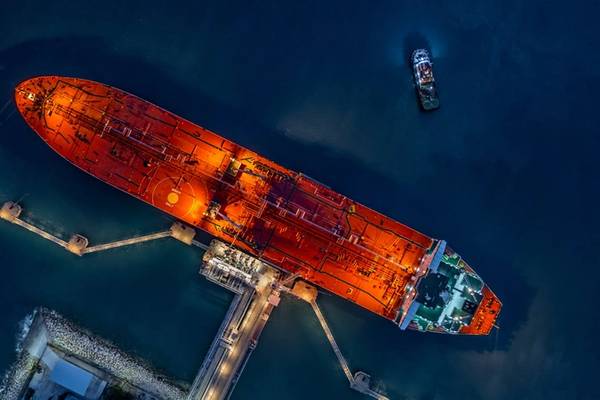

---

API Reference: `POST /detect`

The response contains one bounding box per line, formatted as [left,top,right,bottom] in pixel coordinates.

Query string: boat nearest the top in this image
[411,49,439,111]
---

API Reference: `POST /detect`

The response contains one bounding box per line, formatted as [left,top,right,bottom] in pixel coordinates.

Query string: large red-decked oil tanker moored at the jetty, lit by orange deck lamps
[12,76,504,334]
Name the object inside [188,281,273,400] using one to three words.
bridge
